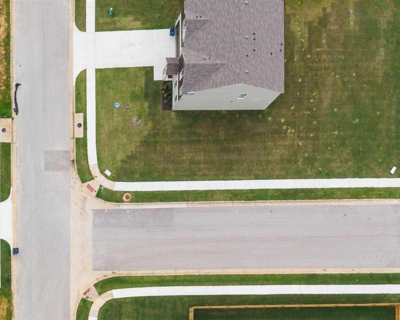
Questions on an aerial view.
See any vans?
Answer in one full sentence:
No, the scene contains no van.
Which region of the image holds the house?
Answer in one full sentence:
Look in the top portion of the view to spot the house.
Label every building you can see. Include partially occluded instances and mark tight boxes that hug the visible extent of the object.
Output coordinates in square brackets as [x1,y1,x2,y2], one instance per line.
[161,0,283,109]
